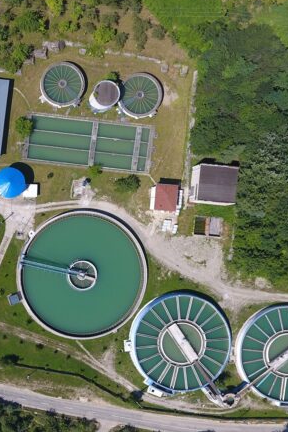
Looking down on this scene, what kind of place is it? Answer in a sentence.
It's an industrial area.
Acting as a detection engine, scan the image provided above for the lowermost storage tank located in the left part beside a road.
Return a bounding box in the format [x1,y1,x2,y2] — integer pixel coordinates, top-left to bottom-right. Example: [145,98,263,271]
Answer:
[17,208,148,340]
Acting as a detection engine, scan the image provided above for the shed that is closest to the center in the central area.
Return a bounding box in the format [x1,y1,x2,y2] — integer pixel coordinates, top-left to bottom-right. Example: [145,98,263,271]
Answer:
[152,184,178,212]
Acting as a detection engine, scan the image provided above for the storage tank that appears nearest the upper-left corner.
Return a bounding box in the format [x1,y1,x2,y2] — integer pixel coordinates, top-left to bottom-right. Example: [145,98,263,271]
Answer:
[36,61,87,113]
